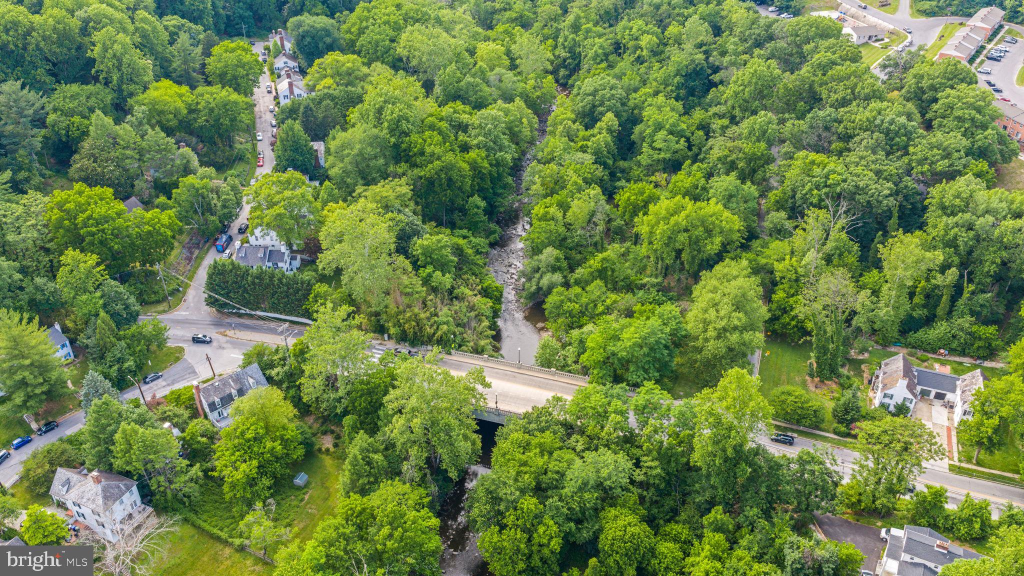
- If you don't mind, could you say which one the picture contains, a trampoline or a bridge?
bridge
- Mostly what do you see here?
trees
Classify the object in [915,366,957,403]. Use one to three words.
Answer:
building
